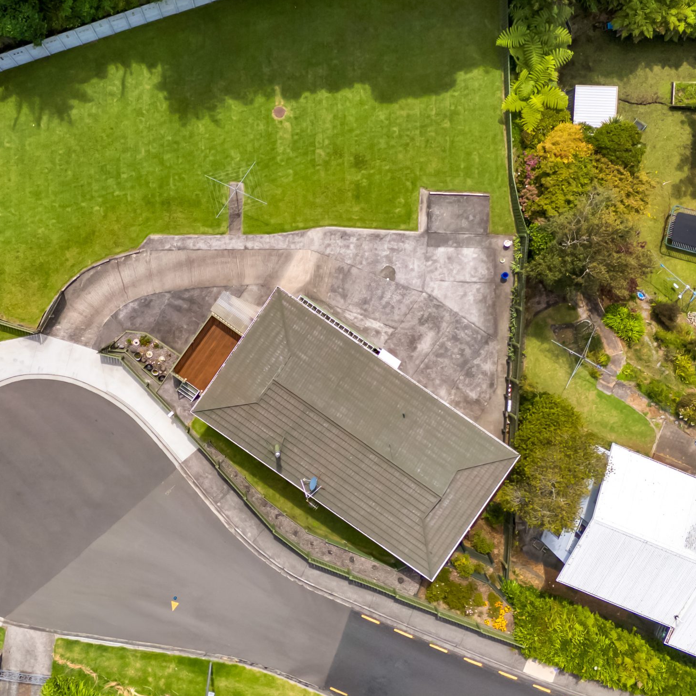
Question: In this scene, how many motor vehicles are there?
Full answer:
No motor vehicles are visible.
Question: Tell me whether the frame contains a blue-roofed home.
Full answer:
No, I find no blue-roofed home anywhere in the image.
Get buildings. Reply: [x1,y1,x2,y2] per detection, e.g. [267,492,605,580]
[547,442,696,659]
[562,85,623,131]
[191,286,522,583]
